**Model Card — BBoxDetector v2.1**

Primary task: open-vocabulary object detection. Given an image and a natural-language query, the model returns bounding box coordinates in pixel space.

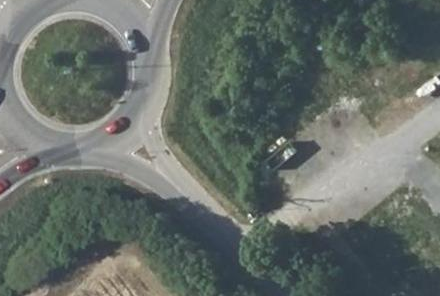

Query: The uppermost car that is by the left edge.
[16,156,38,172]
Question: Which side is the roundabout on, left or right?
left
